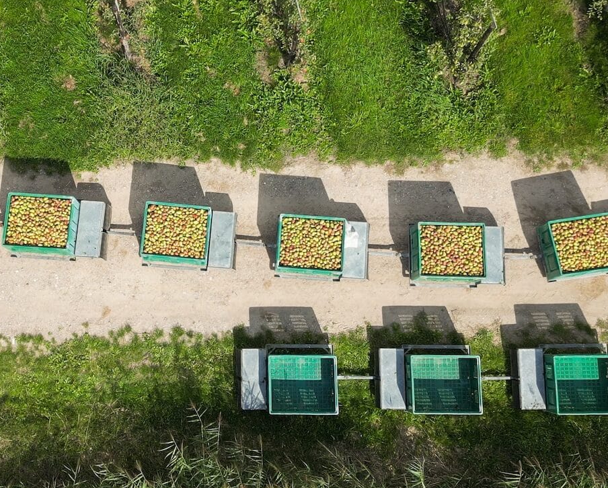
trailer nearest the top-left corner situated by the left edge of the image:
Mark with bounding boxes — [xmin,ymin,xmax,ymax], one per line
[0,199,114,262]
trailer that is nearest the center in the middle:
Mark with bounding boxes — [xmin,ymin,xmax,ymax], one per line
[237,215,372,282]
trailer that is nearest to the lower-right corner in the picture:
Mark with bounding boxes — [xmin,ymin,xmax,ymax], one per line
[504,345,608,412]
